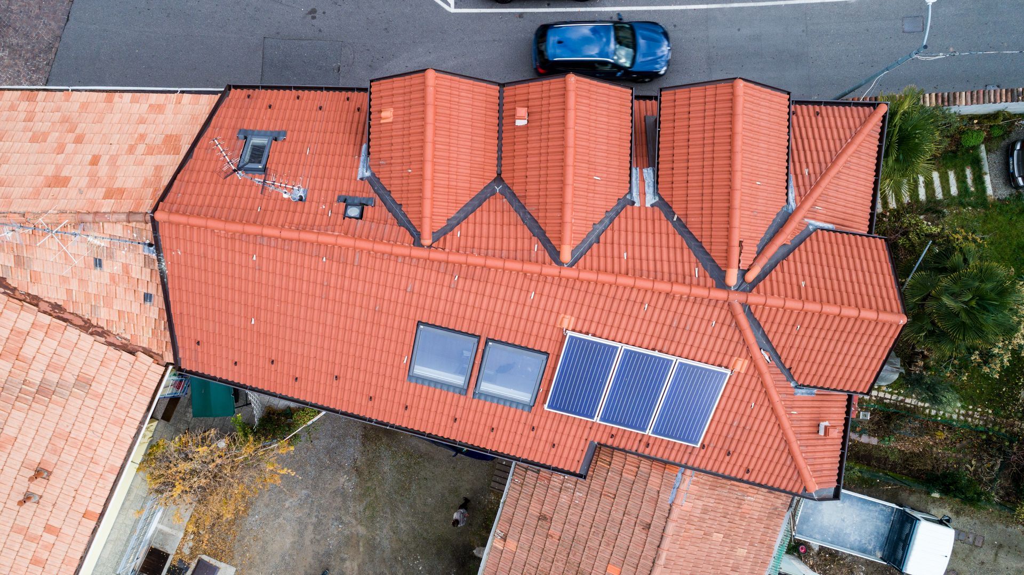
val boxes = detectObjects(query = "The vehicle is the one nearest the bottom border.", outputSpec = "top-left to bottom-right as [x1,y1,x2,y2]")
[791,487,956,575]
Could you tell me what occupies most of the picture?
buildings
